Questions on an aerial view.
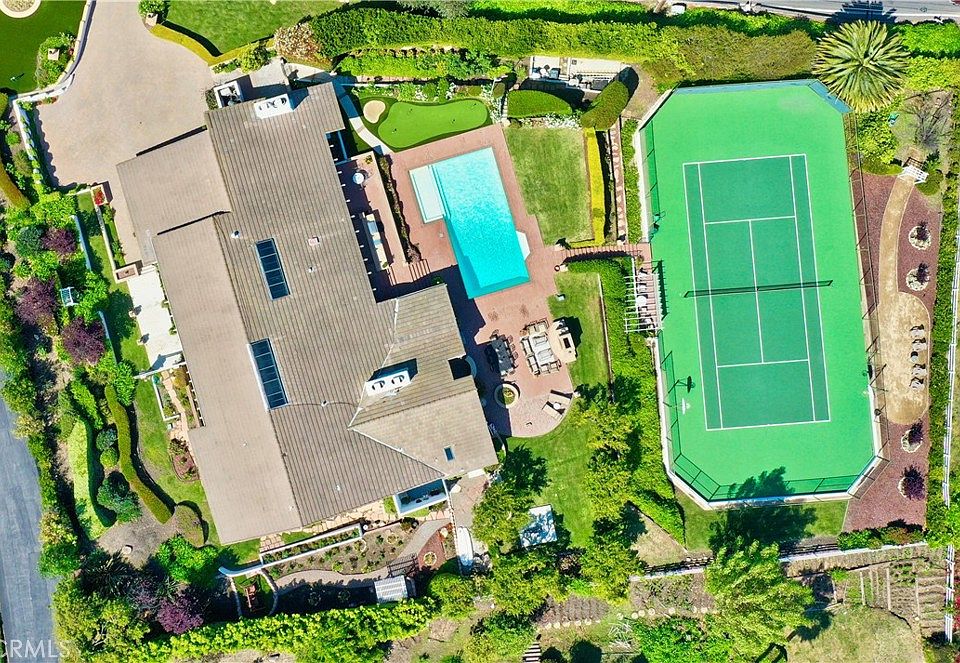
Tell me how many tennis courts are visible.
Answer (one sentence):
I count just 1 tennis court.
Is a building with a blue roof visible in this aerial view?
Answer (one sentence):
No, the frame has no building with a blue roof in it.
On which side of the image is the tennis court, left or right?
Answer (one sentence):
The tennis court appears in the right half of the scene.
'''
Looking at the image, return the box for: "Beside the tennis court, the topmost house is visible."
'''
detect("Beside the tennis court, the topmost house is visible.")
[115,82,497,545]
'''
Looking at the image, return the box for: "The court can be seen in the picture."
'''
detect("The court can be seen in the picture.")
[641,88,875,501]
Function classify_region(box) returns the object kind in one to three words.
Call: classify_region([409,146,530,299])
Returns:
swimming pool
